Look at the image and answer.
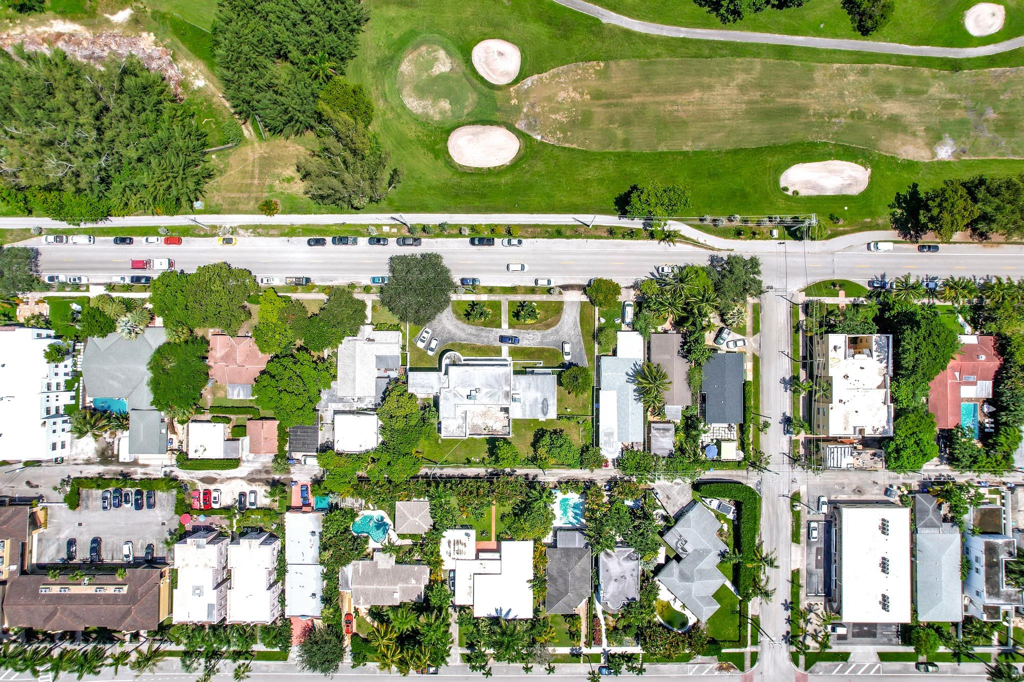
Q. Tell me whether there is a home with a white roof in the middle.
Yes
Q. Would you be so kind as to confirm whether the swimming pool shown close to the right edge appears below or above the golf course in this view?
below it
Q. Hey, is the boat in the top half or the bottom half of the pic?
bottom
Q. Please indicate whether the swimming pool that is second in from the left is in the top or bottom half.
bottom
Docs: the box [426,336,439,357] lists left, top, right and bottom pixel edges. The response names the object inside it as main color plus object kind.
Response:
white vehicle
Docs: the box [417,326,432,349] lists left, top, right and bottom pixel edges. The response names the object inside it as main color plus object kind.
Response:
white car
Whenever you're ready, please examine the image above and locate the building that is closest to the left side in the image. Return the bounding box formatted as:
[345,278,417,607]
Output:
[0,325,79,459]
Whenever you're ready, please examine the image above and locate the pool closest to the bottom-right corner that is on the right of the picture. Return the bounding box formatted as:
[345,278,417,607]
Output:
[958,398,995,444]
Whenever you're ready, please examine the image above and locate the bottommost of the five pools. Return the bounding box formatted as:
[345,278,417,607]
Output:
[653,579,698,634]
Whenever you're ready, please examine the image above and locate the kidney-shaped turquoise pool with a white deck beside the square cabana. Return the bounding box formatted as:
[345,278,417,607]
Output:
[350,509,414,550]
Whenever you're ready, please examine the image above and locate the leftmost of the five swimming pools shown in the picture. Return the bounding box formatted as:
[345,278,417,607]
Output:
[86,396,129,417]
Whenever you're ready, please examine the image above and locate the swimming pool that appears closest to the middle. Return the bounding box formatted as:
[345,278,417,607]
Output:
[552,491,586,528]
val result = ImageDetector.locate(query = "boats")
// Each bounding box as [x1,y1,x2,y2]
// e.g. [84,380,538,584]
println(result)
[700,496,738,518]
